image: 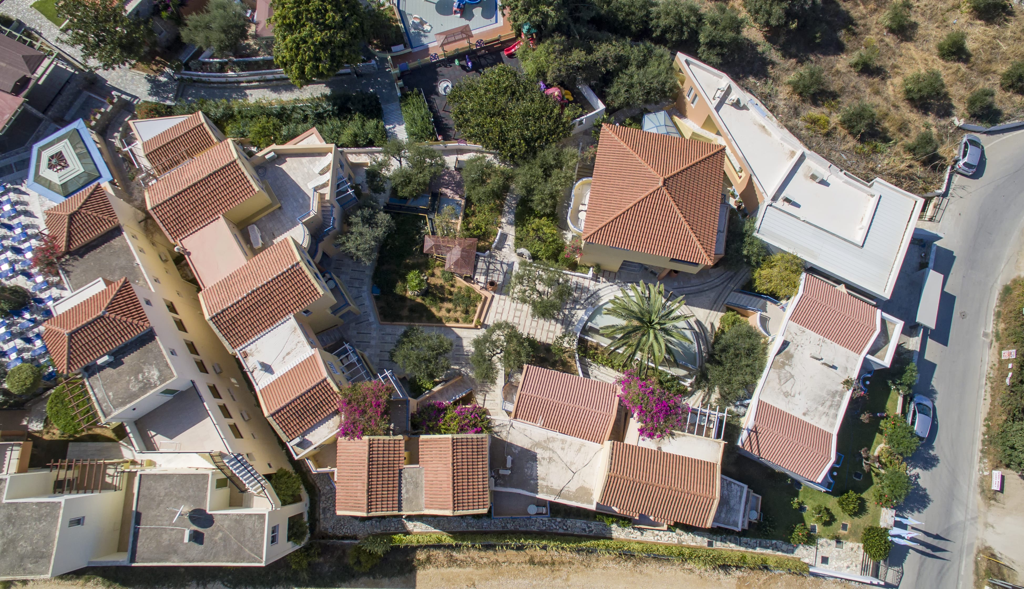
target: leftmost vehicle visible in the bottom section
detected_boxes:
[905,395,934,442]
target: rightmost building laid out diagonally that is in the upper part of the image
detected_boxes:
[674,52,925,304]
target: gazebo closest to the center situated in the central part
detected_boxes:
[423,235,479,283]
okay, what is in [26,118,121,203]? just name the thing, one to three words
building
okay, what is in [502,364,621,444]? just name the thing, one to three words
house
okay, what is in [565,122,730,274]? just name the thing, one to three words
house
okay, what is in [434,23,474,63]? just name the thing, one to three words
gazebo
